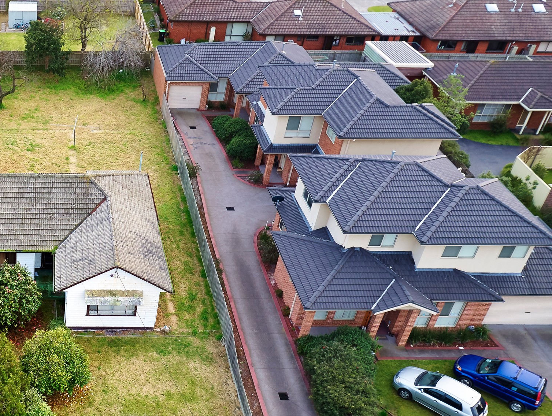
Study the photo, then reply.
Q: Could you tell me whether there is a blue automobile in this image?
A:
Yes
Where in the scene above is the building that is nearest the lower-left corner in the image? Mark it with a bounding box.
[0,153,178,333]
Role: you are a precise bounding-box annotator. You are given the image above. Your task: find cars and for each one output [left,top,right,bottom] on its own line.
[449,355,552,415]
[392,369,491,416]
